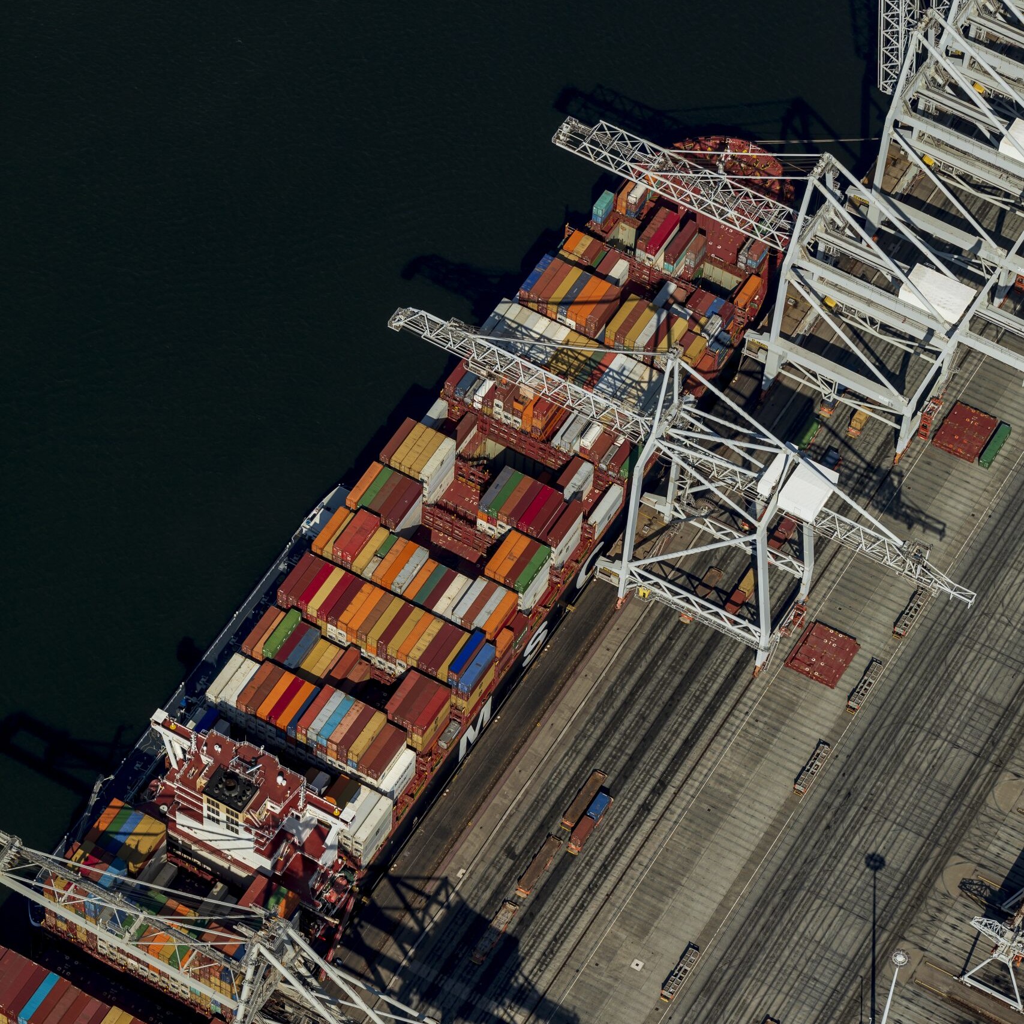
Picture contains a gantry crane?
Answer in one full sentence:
Yes, there is a gantry crane in the image.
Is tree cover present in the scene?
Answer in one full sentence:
No, tree cover can't be seen anywhere here.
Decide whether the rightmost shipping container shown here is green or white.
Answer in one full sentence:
In this view, the rightmost shipping container is green.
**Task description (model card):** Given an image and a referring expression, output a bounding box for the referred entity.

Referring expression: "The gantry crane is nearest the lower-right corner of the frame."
[958,887,1024,1012]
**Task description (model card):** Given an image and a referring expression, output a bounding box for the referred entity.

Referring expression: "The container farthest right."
[978,424,1012,470]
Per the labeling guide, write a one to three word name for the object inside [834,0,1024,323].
container crane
